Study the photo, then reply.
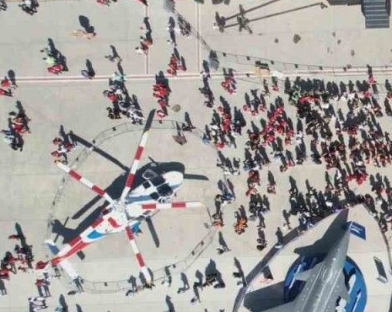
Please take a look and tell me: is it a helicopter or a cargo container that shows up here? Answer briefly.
helicopter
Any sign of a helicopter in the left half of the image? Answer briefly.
Yes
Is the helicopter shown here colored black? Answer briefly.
No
